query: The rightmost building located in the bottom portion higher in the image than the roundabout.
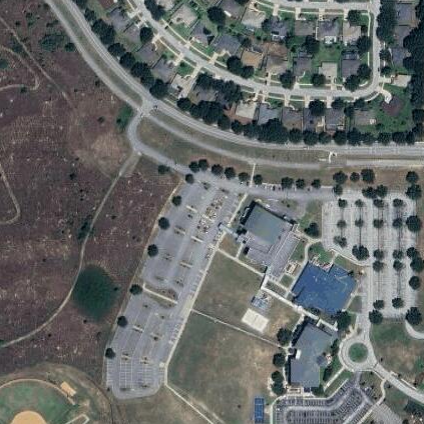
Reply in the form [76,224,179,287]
[292,263,357,314]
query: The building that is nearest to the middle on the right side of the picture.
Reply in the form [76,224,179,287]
[235,203,300,278]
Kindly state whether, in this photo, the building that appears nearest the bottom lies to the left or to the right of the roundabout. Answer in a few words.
left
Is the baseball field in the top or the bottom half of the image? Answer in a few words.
bottom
